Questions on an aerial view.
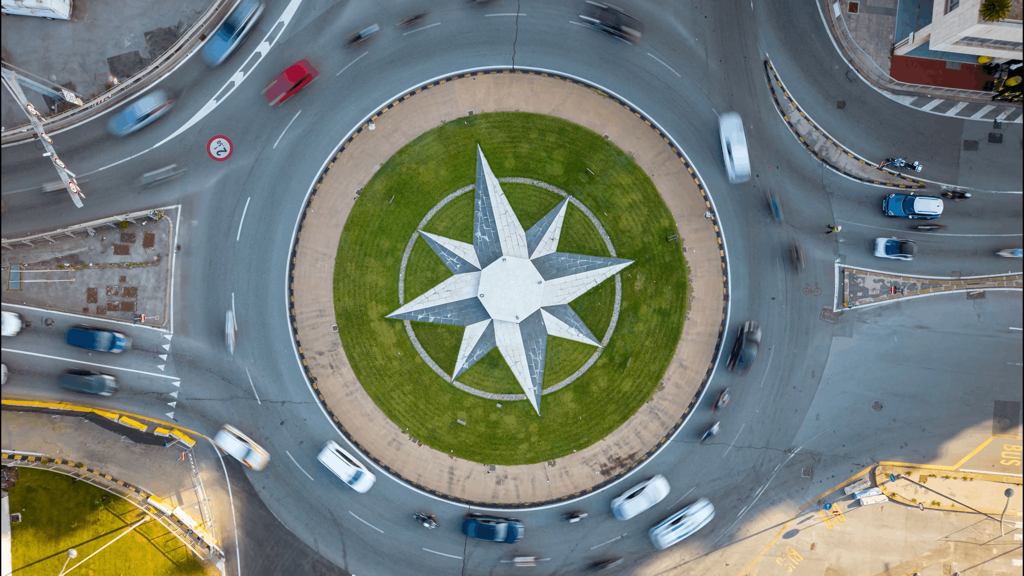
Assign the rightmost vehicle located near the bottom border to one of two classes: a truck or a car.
car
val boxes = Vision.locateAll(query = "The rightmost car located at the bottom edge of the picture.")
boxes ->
[649,495,713,550]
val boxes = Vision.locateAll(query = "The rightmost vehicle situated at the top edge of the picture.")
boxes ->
[580,1,648,49]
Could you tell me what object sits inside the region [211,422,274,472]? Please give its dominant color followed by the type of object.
white car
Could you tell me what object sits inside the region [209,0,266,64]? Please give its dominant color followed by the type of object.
blue car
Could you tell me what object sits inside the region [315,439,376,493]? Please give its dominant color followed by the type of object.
white car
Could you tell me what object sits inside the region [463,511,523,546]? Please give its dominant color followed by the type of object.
blue car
